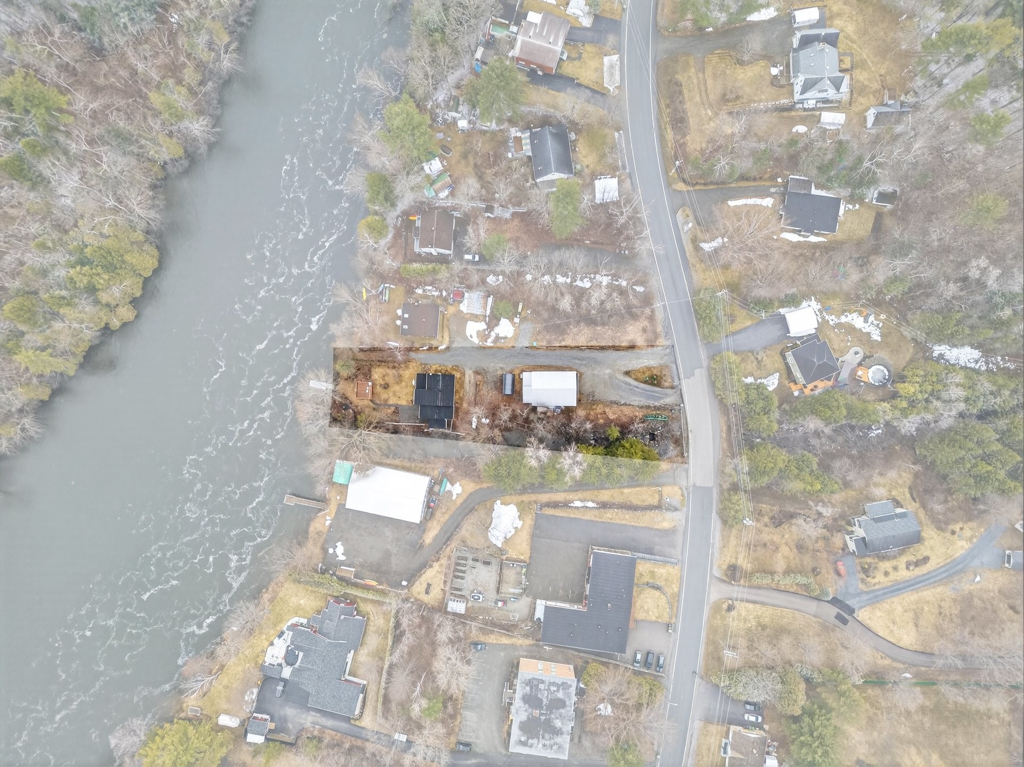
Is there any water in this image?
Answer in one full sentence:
Yes, the picture does contain water.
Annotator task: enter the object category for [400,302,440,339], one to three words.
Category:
house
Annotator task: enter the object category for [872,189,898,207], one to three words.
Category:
shed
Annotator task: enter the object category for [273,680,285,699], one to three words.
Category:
vehicle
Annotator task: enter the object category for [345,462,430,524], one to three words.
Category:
building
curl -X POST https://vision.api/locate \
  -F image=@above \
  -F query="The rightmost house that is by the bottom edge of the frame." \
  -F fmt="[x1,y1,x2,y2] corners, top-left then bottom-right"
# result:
[720,727,767,767]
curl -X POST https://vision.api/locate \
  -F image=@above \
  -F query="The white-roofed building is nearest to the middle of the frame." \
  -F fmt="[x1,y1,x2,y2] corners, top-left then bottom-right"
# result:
[521,371,577,411]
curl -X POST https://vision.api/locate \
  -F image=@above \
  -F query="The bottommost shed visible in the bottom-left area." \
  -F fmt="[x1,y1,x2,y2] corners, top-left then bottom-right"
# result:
[246,712,273,744]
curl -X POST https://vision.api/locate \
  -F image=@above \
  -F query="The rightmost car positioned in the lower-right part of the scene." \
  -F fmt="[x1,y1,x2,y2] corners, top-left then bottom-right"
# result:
[836,562,848,578]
